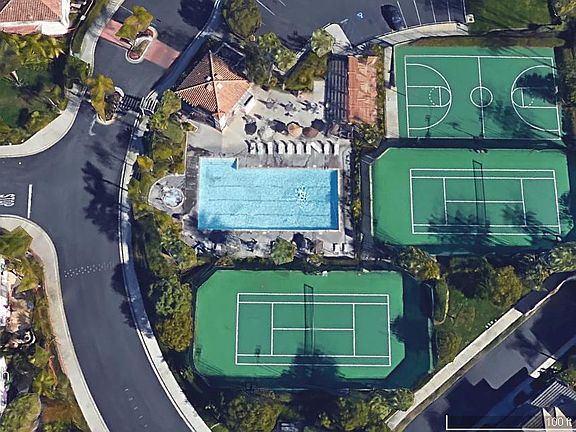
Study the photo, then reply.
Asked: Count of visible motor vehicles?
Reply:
1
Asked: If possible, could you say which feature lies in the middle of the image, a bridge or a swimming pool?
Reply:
swimming pool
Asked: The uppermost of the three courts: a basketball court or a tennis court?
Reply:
basketball court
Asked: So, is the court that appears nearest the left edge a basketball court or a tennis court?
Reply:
tennis court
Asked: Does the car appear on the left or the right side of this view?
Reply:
right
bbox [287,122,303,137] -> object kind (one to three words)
umbrella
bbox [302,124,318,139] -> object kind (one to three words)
umbrella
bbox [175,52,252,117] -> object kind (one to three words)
building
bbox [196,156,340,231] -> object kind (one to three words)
swimming pool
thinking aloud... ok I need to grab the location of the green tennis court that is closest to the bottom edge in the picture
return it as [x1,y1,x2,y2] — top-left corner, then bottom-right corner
[195,271,431,390]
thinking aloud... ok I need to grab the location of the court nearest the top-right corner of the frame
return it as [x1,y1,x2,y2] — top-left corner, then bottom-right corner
[396,48,566,142]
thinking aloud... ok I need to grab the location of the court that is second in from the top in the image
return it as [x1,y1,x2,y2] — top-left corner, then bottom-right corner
[372,149,576,256]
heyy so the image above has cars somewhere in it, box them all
[382,3,402,28]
